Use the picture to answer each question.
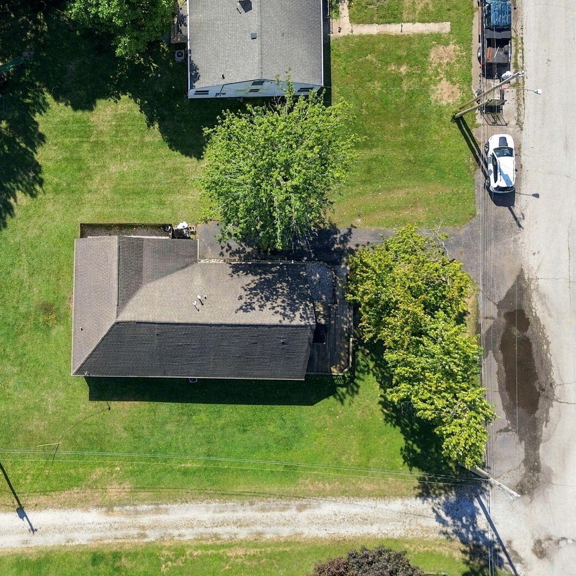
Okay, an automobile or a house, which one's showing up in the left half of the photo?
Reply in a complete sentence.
Looking in the left half of the photo, you will find a house.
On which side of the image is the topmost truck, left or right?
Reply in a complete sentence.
It is on the right.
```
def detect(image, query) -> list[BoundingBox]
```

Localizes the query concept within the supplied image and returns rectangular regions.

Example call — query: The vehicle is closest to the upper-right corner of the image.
[478,0,515,67]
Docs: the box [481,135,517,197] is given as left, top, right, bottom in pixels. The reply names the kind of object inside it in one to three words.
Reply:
car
